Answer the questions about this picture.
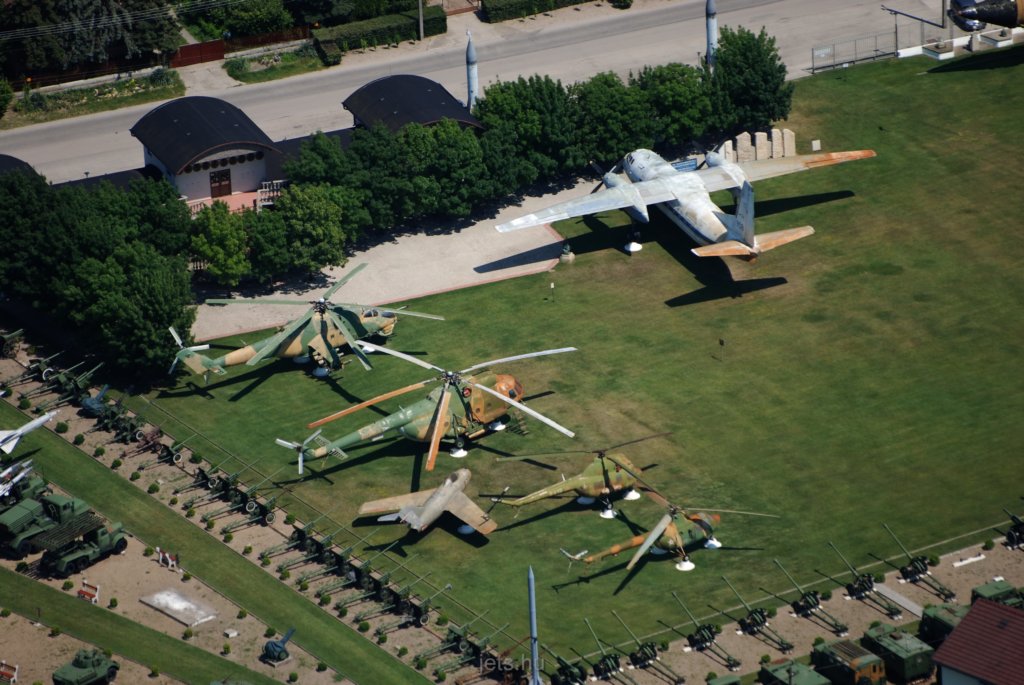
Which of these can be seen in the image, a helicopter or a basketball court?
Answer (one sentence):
It is a helicopter that can be seen here.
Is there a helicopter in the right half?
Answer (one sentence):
Yes, in the right half there is a helicopter.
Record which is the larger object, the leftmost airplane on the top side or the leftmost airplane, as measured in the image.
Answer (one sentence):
Compared with the leftmost airplane, the leftmost airplane on the top side is the bigger one.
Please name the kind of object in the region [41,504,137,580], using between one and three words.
truck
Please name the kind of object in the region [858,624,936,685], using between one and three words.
van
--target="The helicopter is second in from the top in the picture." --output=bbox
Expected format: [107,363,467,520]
[280,342,578,475]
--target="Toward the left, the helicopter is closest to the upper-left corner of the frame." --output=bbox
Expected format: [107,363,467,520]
[161,264,442,382]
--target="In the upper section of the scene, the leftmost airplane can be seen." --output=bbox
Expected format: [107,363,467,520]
[494,135,878,260]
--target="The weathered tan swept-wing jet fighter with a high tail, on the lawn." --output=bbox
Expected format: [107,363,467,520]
[357,465,497,535]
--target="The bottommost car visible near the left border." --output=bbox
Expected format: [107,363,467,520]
[47,647,119,685]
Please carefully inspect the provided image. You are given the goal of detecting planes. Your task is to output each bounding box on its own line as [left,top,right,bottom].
[964,0,1024,27]
[494,135,878,260]
[357,465,497,535]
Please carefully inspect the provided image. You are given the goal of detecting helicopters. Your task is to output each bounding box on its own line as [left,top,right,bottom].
[280,342,578,475]
[485,434,669,520]
[161,264,442,382]
[567,472,779,575]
